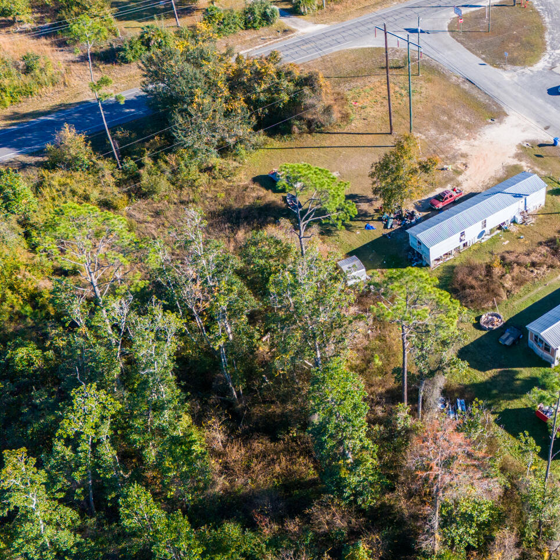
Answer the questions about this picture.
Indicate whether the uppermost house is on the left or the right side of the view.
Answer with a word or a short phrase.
right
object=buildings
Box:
[524,303,560,365]
[332,253,367,284]
[404,173,550,266]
